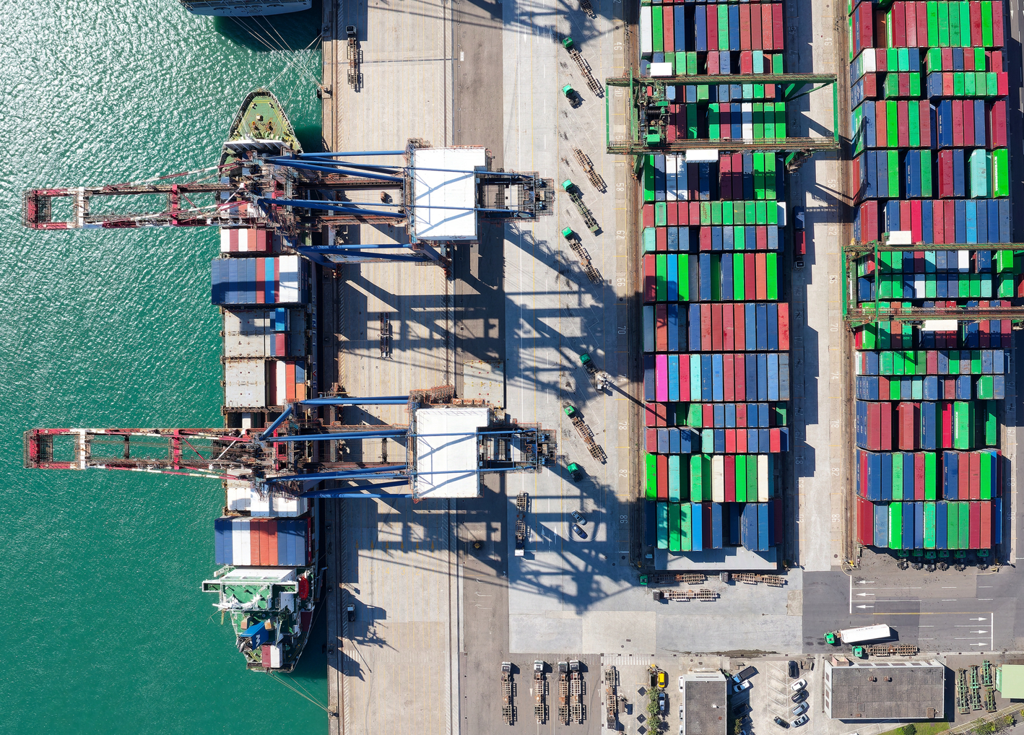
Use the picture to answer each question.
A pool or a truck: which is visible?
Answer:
truck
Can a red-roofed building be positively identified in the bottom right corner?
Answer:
No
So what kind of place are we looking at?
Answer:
port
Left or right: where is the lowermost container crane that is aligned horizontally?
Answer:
left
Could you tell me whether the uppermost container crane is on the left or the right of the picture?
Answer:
right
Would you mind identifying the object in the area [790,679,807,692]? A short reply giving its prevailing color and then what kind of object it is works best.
white vehicle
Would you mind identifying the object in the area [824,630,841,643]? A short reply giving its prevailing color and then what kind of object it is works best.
green vehicle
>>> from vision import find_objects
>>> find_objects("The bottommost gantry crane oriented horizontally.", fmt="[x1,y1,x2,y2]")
[15,367,561,508]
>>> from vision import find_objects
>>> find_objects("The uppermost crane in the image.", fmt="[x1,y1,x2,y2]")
[607,61,838,171]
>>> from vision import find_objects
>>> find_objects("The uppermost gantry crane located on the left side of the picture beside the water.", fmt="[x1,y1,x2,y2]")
[12,123,559,282]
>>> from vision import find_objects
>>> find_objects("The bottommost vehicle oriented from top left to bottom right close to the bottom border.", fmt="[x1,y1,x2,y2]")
[774,715,790,730]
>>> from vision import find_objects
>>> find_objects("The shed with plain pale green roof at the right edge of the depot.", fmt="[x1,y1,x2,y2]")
[992,661,1024,699]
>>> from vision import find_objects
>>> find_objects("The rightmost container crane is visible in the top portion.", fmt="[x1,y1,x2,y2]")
[841,230,1024,331]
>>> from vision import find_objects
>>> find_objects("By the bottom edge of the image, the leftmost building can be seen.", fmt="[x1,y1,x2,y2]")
[679,666,727,735]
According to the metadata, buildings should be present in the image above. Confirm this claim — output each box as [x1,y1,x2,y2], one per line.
[679,666,727,735]
[822,650,945,718]
[654,545,777,569]
[992,661,1024,699]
